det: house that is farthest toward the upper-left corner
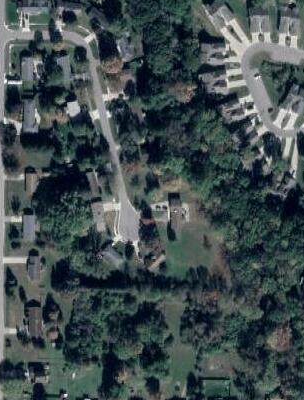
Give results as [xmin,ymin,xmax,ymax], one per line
[19,0,49,16]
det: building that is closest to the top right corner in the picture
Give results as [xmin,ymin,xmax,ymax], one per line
[280,7,300,37]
